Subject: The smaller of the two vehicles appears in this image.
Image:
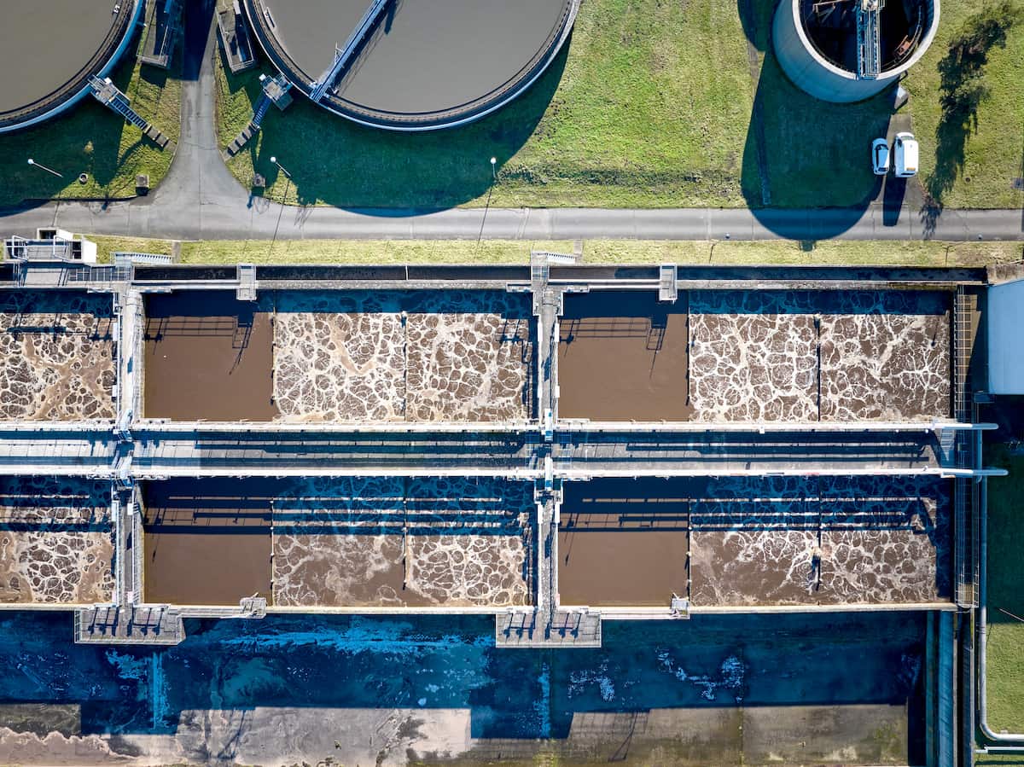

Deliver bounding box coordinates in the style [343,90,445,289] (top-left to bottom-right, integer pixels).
[873,138,895,173]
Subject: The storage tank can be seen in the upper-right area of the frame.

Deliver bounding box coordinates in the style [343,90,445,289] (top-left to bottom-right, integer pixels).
[772,0,940,102]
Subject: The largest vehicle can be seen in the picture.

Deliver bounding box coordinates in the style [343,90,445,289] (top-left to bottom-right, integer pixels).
[896,132,922,176]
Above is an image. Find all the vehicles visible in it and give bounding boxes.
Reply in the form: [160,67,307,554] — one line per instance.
[873,138,895,173]
[896,132,922,176]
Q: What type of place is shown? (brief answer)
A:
industrial area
